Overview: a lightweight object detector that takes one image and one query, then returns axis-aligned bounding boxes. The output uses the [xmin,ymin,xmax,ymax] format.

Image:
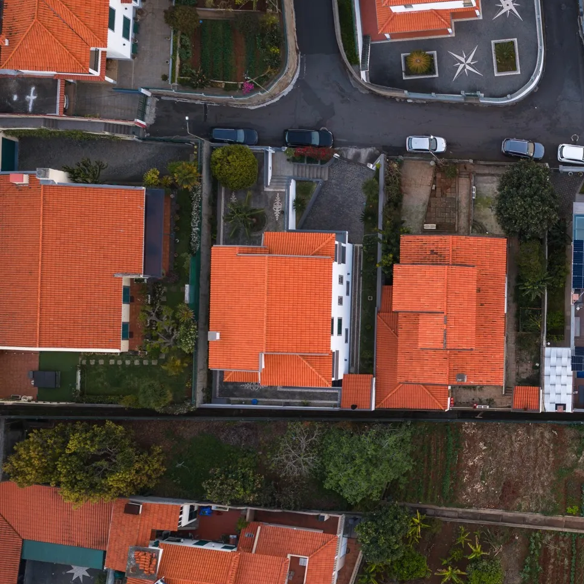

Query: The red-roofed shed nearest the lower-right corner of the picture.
[513,386,540,409]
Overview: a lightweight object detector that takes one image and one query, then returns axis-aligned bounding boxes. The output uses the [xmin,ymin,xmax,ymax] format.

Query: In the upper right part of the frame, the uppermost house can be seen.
[378,0,483,46]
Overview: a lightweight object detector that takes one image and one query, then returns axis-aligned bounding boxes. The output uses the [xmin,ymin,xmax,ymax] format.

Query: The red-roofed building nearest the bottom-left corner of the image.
[0,479,123,584]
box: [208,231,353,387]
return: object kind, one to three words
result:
house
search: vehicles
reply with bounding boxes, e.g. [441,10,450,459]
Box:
[407,134,447,155]
[287,129,335,150]
[212,126,262,147]
[501,139,545,160]
[557,145,584,165]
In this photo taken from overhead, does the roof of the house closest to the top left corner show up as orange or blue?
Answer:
orange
